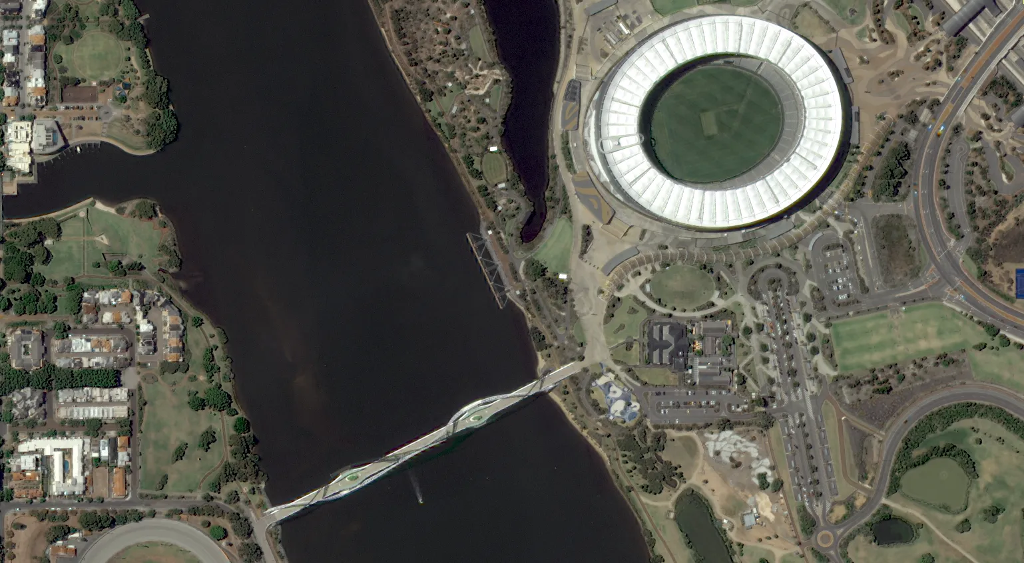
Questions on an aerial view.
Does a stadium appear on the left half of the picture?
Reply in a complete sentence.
No, the scene shows no stadium on the left half of the picture.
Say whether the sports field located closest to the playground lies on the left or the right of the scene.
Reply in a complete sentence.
The sports field located closest to the playground is on the right side of the image.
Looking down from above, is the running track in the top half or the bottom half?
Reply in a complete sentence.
The running track is in the bottom half of the image.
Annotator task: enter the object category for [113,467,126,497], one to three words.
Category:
house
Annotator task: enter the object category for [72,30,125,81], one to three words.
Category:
sports field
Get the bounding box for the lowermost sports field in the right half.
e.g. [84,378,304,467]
[651,264,715,312]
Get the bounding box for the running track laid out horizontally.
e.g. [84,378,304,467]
[76,514,233,563]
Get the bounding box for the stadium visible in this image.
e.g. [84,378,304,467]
[595,15,842,228]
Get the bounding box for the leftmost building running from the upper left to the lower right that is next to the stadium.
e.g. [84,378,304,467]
[572,170,615,224]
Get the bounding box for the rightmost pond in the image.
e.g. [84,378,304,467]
[901,458,971,513]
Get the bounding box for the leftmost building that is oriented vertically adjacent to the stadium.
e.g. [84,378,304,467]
[561,79,581,130]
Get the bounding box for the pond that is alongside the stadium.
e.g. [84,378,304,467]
[485,0,560,243]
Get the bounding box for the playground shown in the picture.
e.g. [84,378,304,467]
[595,363,641,422]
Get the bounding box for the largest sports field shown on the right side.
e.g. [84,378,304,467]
[652,66,781,182]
